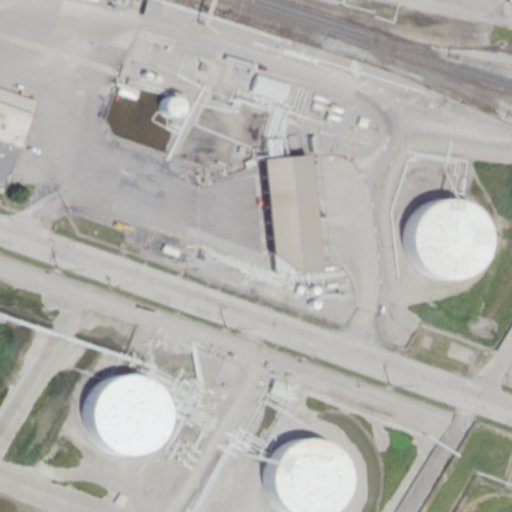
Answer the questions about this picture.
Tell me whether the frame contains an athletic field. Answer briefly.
No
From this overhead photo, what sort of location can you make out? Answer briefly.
industrial area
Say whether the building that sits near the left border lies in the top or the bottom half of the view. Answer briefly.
top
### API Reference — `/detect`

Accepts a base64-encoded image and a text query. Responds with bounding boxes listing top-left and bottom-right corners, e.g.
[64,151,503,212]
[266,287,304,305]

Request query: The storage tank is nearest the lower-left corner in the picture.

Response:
[80,371,178,457]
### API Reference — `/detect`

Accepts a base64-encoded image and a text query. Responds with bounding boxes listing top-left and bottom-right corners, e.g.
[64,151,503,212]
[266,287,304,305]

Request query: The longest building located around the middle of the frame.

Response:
[260,156,324,272]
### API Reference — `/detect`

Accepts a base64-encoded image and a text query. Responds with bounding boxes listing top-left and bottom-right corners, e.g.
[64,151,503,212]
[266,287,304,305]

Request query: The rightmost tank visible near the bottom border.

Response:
[261,434,358,512]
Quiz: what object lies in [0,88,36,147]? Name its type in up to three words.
building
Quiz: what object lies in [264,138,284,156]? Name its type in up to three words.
shed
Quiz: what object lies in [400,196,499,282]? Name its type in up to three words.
storage tank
